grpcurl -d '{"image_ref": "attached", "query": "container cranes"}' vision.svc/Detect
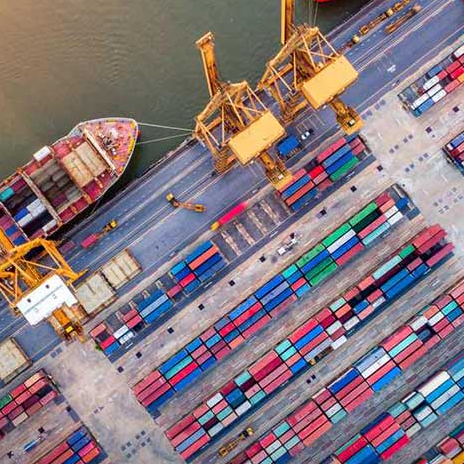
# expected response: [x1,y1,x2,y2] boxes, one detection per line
[0,224,94,346]
[249,0,364,131]
[189,27,293,186]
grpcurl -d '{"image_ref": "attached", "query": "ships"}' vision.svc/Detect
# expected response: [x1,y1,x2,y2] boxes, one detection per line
[0,117,141,277]
[309,0,337,8]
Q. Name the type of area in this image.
port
